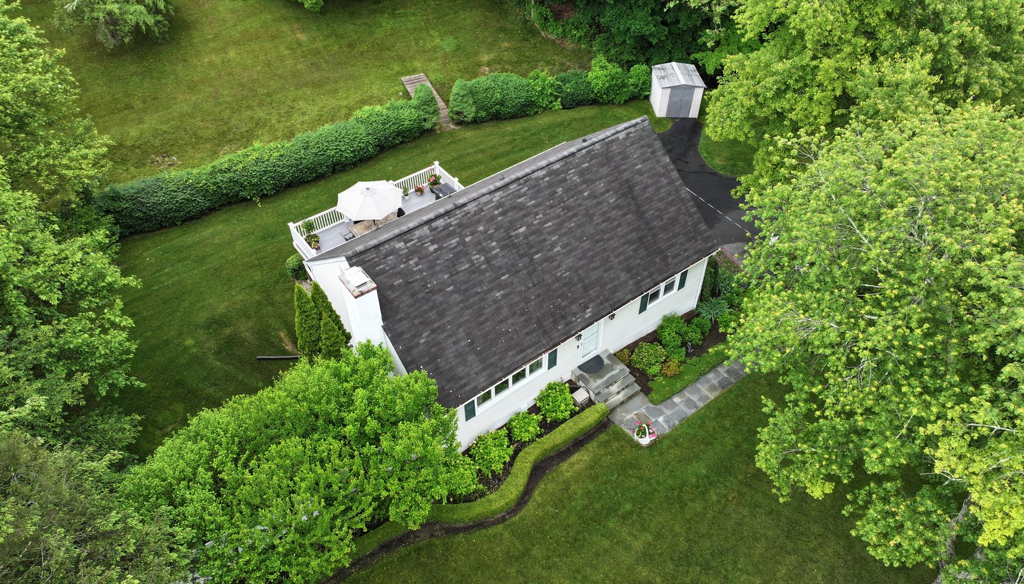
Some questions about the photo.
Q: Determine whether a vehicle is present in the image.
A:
No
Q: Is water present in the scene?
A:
No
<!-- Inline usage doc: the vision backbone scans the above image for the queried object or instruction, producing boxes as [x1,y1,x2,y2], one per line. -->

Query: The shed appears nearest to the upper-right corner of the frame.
[654,59,706,118]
